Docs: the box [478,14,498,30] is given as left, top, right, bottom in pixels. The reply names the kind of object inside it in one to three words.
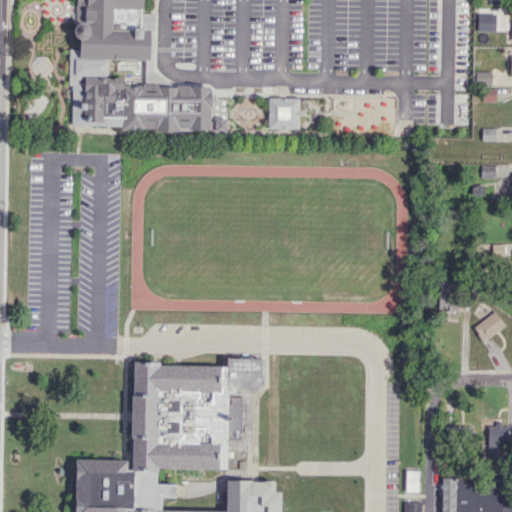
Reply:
building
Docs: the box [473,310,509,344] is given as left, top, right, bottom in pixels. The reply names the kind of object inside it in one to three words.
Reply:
house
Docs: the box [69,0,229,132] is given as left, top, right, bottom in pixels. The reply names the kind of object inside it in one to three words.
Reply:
building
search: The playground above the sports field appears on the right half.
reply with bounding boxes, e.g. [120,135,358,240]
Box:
[330,92,397,134]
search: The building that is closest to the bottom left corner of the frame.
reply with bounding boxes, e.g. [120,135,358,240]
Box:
[76,358,284,512]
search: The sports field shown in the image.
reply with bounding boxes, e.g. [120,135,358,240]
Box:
[144,177,396,302]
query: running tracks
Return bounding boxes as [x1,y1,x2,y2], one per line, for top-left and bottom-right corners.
[131,164,410,314]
